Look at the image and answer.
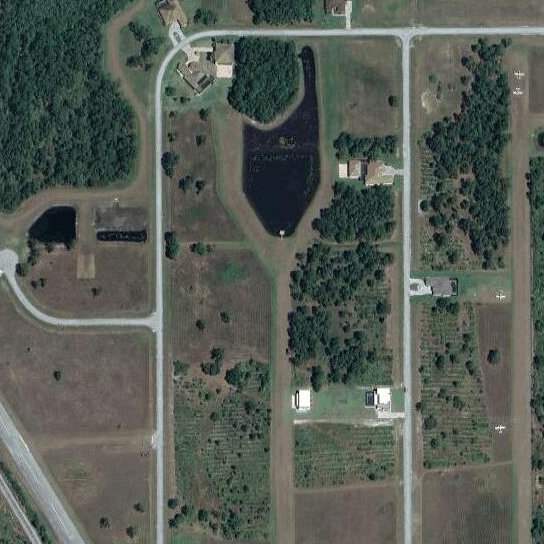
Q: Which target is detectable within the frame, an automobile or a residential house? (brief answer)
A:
residential house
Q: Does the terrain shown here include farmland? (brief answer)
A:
Yes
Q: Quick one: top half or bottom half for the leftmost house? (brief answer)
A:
top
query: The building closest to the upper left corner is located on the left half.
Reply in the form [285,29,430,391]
[161,0,187,21]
